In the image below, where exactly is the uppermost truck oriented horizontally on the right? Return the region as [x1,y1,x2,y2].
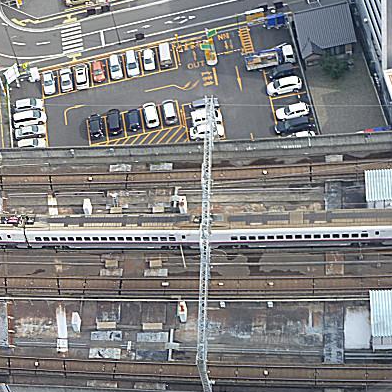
[244,38,295,68]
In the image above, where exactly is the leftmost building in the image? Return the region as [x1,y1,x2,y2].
[293,1,355,80]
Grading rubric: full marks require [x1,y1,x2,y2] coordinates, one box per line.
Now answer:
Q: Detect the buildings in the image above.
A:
[349,0,392,126]
[293,1,355,80]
